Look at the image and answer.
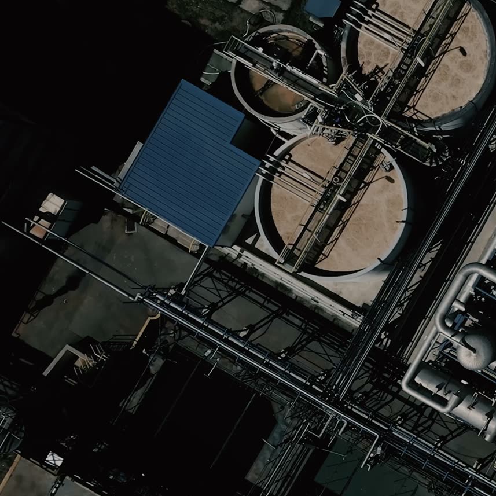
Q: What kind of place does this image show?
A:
industrial area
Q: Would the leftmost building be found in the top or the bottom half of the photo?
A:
top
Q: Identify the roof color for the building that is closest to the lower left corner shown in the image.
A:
black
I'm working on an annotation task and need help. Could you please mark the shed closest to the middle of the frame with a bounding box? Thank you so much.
[118,78,274,247]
